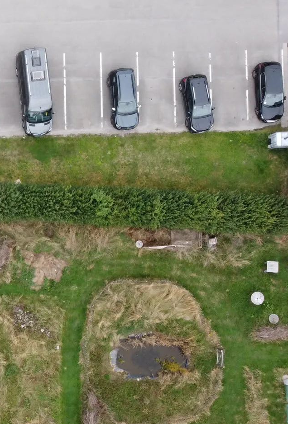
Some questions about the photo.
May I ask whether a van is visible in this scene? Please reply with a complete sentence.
Yes, a van appears in the view.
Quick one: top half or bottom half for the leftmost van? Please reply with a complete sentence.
It is in the top half that the leftmost van appears.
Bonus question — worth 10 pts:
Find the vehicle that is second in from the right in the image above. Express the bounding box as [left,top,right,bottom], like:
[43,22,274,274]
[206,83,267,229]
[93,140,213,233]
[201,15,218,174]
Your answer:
[179,72,219,133]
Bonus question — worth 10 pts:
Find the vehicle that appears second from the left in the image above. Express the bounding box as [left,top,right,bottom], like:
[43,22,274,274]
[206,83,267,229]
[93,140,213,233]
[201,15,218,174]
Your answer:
[108,67,146,131]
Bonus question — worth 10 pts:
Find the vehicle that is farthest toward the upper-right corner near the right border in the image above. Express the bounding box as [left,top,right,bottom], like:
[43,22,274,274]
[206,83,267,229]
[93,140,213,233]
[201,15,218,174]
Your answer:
[253,61,288,124]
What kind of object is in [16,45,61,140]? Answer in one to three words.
van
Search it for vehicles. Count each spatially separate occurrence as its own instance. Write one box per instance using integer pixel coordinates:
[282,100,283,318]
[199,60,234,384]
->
[108,67,146,131]
[253,61,288,124]
[16,45,61,140]
[179,72,219,133]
